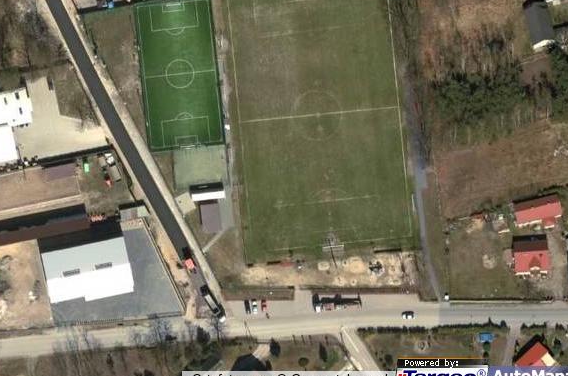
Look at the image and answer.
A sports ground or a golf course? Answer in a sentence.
The picture captures a sports ground.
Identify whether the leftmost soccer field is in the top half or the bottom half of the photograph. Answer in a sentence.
The leftmost soccer field is in the top half of the image.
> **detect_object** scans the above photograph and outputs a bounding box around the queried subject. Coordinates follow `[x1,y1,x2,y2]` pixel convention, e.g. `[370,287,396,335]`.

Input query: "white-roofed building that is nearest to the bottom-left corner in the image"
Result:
[40,237,133,305]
